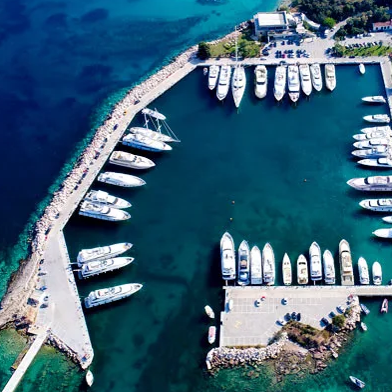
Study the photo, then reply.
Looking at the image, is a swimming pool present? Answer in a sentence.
No, there appears to be no swimming pool in this shot.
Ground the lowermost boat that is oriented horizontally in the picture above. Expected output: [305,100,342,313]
[77,283,142,309]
